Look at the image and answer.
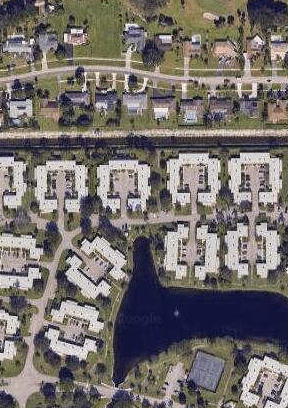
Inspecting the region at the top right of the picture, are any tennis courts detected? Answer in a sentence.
No, I can find no tennis court at the top right of the picture.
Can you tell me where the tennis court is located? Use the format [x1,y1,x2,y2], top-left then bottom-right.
[186,351,226,391]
